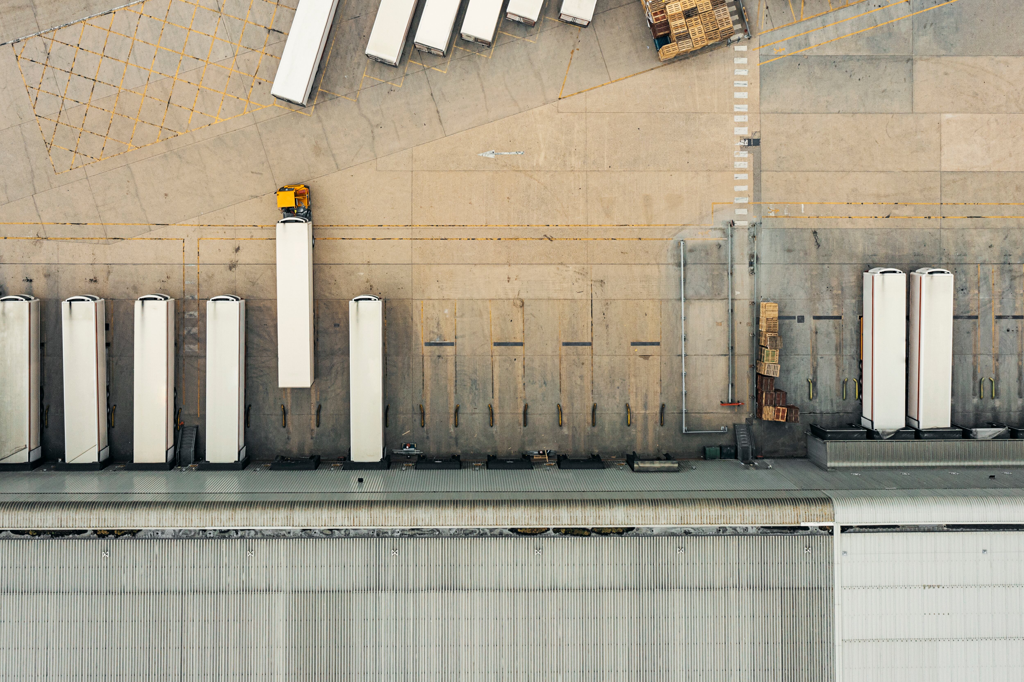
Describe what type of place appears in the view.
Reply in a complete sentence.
The area seen from above is an industrial area.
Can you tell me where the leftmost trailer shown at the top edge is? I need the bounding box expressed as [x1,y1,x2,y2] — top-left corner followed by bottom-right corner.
[271,0,339,109]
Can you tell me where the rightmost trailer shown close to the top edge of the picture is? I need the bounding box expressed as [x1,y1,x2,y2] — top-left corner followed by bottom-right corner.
[557,0,596,30]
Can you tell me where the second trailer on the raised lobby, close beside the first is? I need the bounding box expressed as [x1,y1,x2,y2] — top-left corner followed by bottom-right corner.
[905,269,954,428]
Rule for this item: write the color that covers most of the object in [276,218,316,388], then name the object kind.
white trailer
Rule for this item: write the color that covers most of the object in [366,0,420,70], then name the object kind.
white trailer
